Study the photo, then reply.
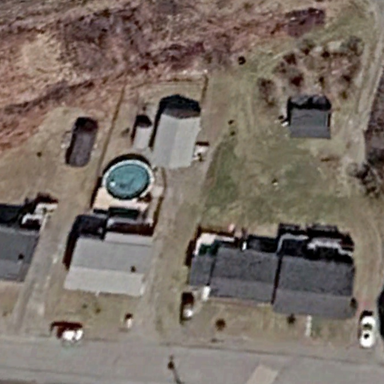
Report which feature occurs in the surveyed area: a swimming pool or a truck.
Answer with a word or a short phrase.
swimming pool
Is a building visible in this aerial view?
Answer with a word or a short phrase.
Yes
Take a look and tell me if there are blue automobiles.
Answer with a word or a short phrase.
No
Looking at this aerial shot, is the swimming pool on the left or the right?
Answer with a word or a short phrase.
left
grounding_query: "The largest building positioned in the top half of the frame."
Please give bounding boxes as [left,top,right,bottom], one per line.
[153,115,201,168]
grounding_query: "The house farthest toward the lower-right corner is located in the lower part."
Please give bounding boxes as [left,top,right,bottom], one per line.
[274,256,356,320]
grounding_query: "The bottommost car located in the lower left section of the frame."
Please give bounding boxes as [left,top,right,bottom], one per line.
[58,325,86,342]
